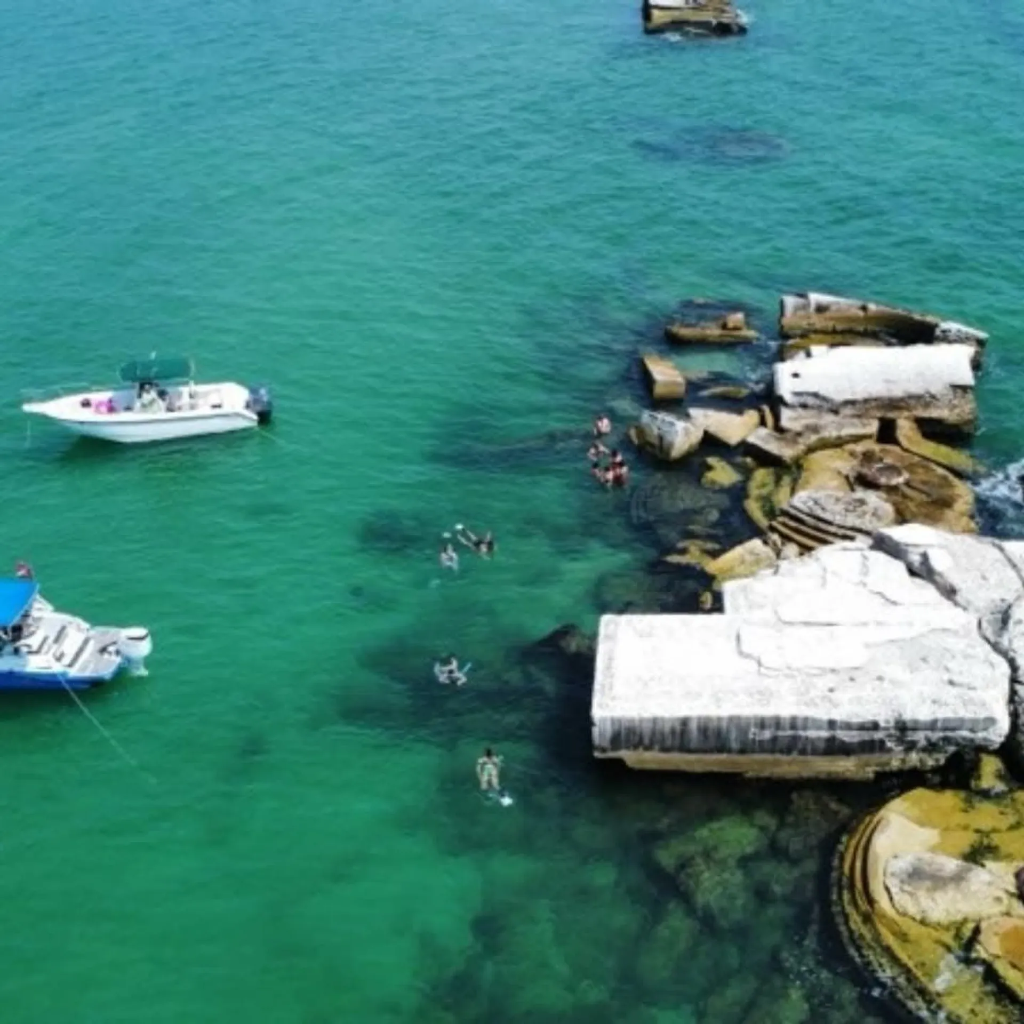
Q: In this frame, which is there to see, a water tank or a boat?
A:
boat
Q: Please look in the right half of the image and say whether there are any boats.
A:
No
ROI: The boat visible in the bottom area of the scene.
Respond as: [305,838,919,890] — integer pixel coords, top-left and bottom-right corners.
[0,580,165,695]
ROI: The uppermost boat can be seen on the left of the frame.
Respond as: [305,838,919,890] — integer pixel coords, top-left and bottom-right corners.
[20,348,284,445]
